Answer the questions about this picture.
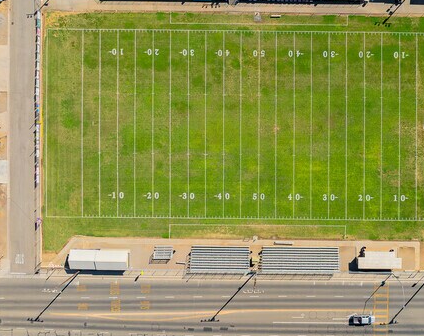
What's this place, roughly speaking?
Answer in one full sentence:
The area seen from above is a sports ground.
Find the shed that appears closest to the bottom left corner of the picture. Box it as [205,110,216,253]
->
[68,248,97,269]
